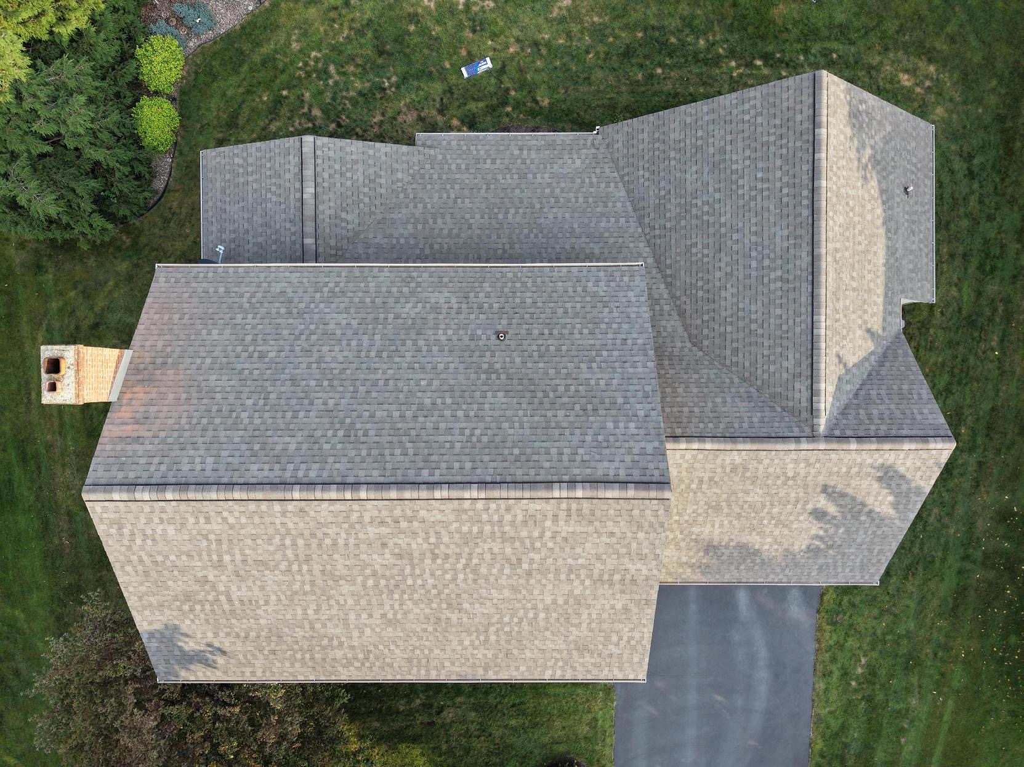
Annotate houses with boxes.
[43,71,956,683]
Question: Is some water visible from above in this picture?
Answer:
No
